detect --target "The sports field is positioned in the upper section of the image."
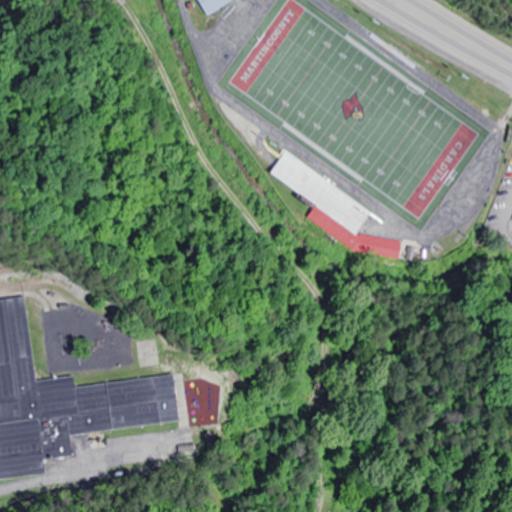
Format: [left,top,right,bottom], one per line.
[219,0,490,228]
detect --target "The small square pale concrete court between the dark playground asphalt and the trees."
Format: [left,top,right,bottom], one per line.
[136,339,159,367]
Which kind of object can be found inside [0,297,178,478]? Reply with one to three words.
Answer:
building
